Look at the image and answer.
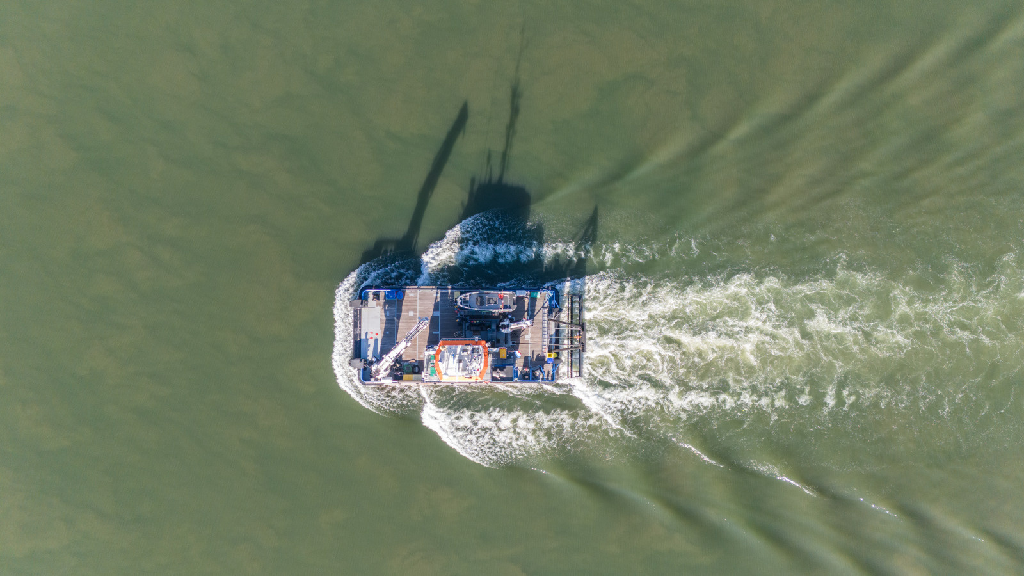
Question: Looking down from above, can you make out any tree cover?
No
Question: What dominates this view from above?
water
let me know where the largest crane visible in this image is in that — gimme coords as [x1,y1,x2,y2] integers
[367,317,432,380]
